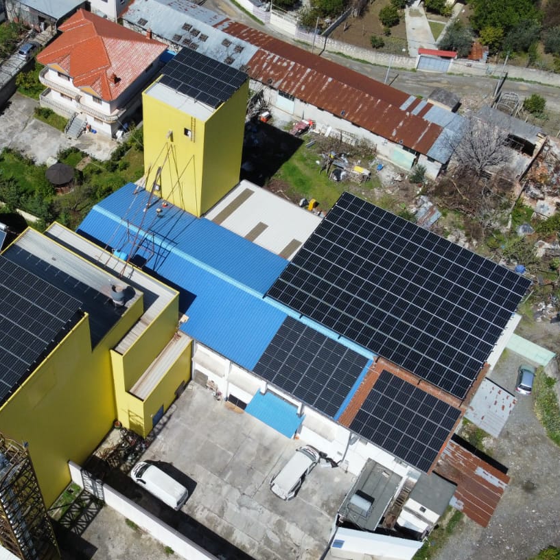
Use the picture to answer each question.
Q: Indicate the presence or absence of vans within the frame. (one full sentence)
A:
Yes, the image includes a van.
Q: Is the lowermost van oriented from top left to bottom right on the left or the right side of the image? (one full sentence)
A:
The lowermost van oriented from top left to bottom right sits on the left side.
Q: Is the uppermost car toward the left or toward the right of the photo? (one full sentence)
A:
The uppermost car is on the left side of the image.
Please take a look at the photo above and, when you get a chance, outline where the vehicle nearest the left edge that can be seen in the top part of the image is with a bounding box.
[13,36,40,61]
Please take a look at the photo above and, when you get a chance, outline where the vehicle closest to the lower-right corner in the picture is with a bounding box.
[512,362,541,400]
